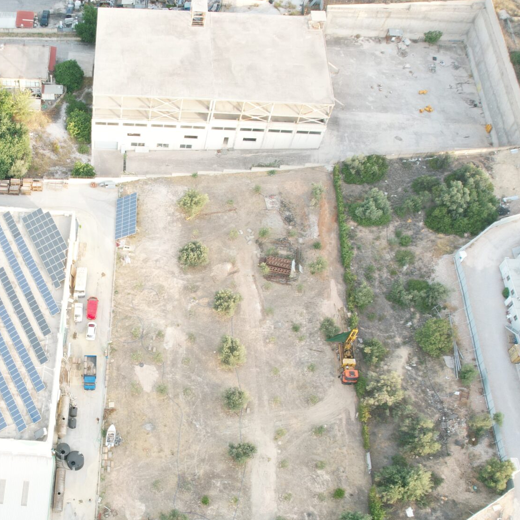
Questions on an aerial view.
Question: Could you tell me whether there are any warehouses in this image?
Yes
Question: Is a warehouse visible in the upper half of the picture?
Yes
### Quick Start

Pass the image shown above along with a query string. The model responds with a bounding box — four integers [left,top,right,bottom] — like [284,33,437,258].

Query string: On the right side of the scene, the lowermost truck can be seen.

[340,322,361,388]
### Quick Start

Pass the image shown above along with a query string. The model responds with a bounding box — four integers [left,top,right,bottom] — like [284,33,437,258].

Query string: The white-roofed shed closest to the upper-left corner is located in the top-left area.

[0,12,16,38]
